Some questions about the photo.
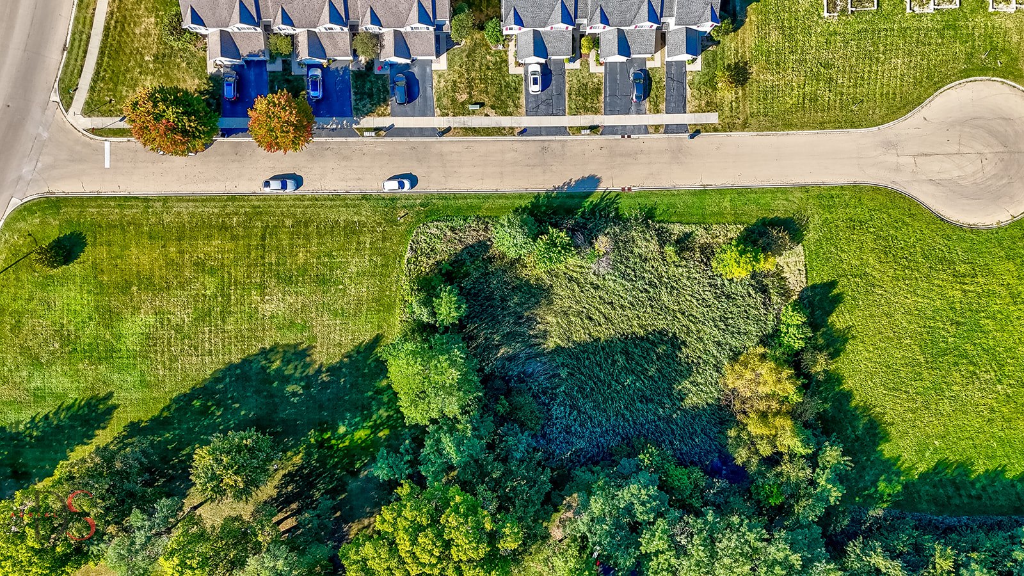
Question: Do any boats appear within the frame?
No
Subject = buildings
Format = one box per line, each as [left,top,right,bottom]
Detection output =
[502,0,722,65]
[178,0,454,65]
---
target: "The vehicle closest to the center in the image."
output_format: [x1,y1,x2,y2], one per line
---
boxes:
[383,177,411,192]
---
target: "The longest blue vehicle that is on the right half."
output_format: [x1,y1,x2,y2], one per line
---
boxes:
[630,70,646,104]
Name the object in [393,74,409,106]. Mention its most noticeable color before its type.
blue car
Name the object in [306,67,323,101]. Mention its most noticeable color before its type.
blue car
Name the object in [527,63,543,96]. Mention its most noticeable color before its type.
white car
